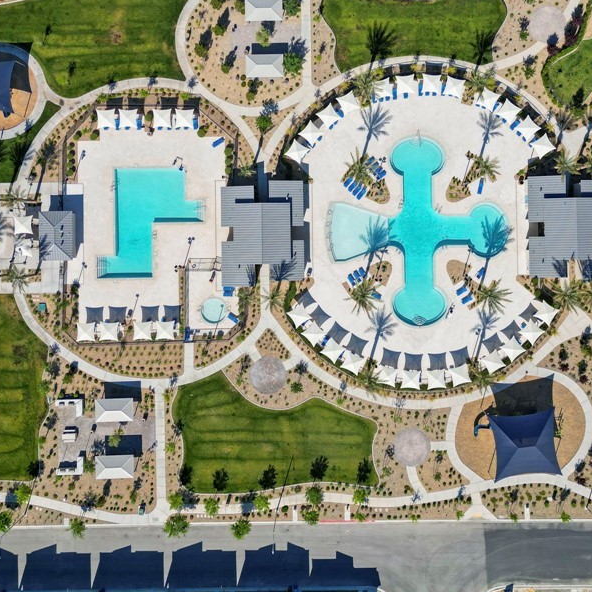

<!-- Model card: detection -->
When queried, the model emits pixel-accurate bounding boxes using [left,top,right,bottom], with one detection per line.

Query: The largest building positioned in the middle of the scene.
[221,181,304,286]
